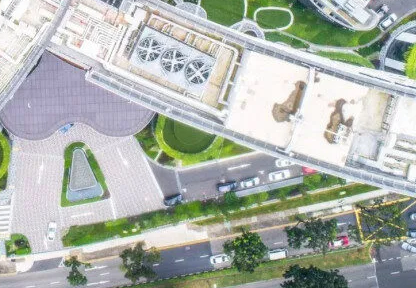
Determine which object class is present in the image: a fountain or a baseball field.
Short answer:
fountain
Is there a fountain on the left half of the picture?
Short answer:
Yes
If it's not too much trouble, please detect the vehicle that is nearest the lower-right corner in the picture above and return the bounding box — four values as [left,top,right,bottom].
[401,240,416,254]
